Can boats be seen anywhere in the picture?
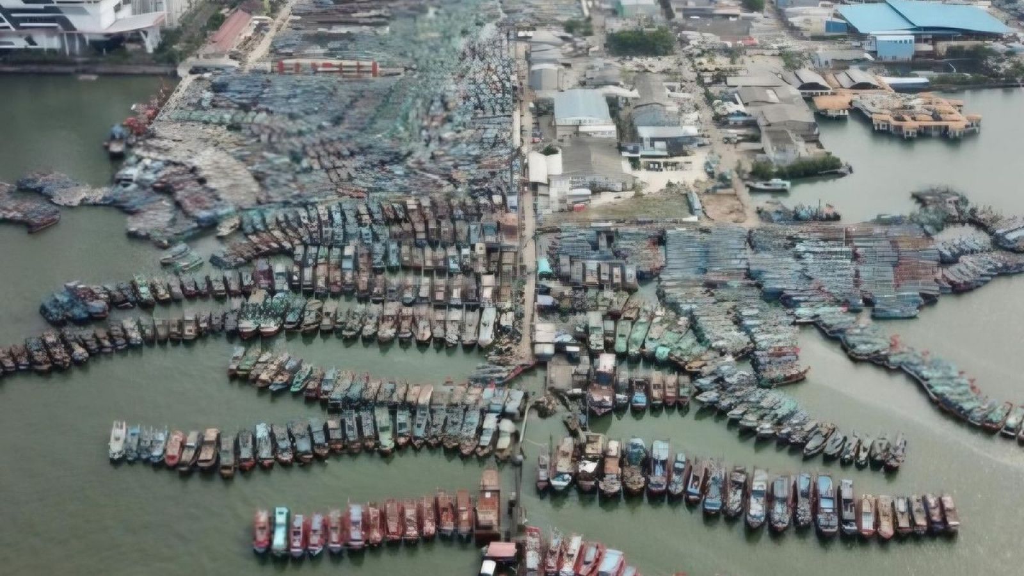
Yes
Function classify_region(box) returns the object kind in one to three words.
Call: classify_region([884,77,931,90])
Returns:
building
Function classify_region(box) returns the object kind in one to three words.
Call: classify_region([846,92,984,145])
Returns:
building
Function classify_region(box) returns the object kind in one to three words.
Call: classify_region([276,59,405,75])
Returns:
ship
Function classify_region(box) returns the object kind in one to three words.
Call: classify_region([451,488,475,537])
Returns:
boat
